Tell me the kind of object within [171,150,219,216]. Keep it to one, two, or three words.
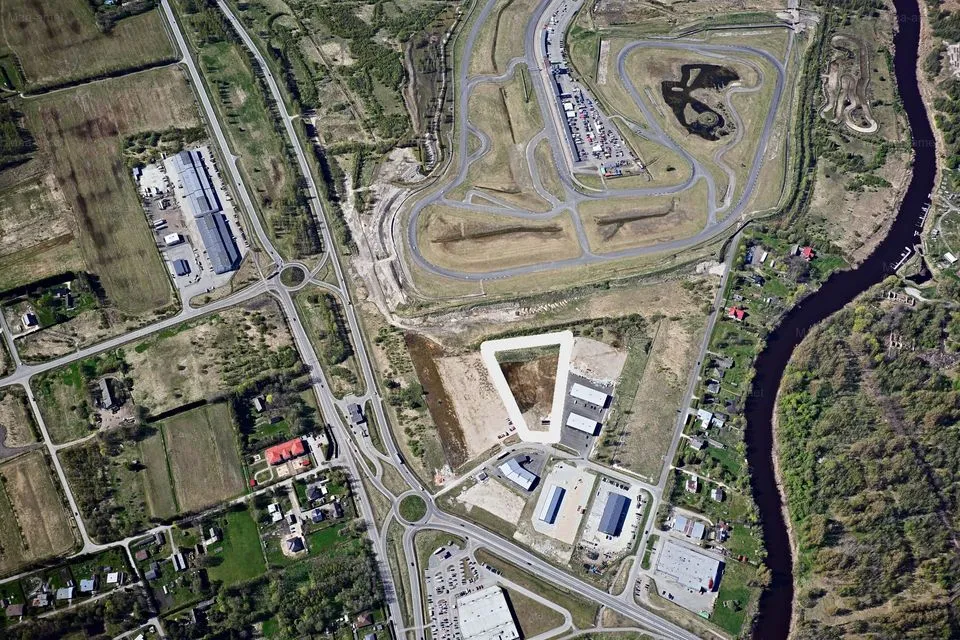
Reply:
building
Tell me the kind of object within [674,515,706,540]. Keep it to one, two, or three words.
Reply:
shed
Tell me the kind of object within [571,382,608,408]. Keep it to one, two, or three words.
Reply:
building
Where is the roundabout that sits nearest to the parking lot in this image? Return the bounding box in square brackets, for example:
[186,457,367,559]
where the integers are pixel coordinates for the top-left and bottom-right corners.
[391,486,434,529]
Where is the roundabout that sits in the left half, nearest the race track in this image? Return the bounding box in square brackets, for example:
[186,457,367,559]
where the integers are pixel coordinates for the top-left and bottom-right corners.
[274,260,311,293]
